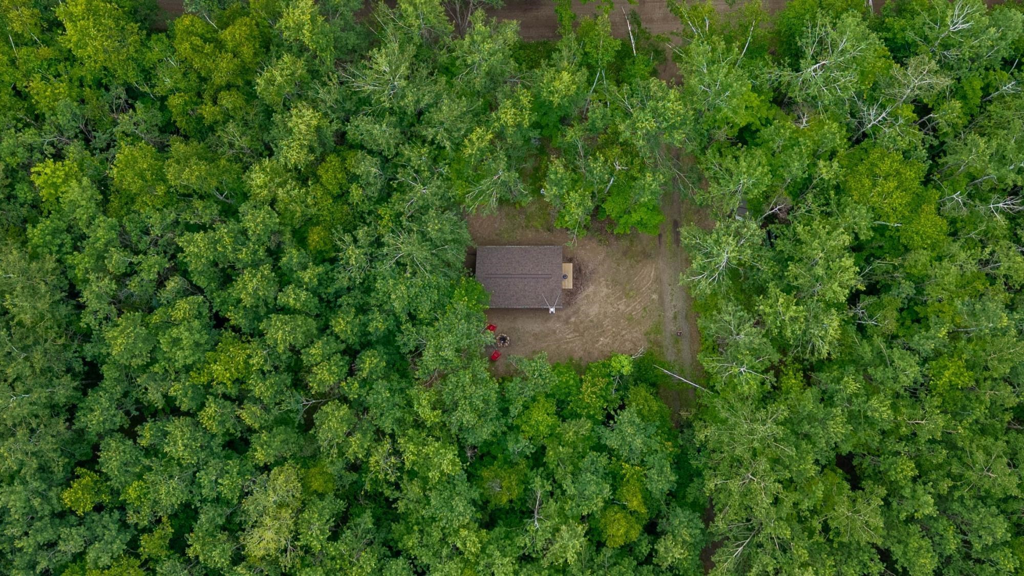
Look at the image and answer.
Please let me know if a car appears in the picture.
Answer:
No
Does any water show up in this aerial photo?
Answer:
No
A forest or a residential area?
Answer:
forest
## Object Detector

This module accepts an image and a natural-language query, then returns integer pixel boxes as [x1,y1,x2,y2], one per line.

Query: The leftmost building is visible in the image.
[476,245,563,308]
